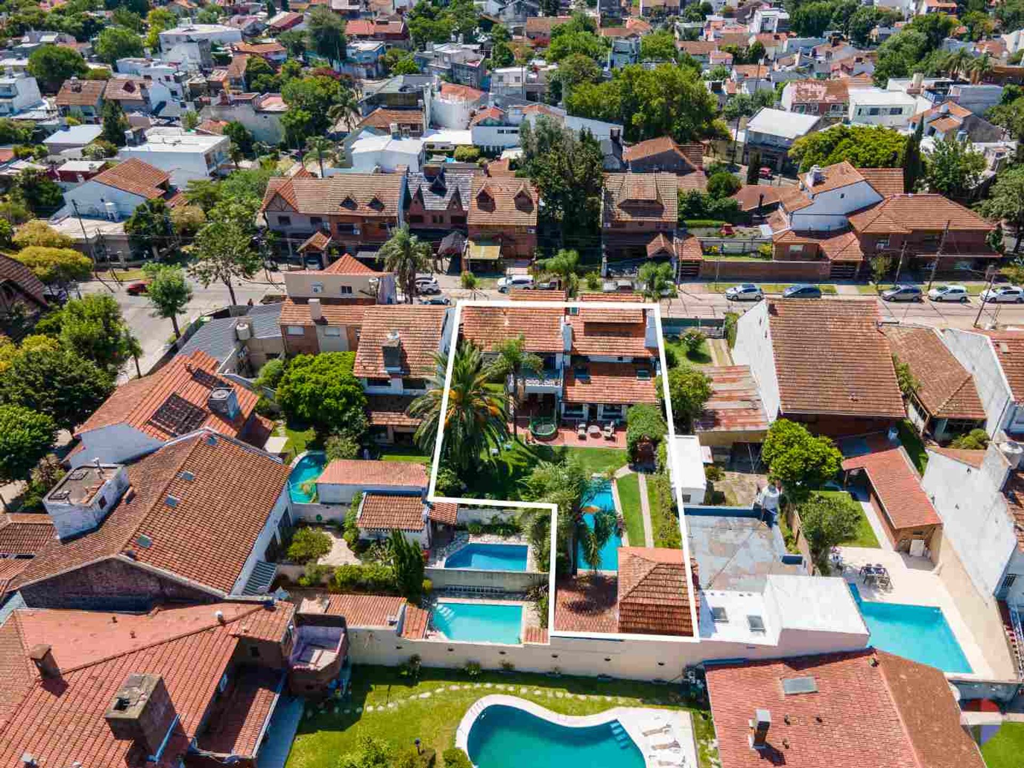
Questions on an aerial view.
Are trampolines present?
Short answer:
Yes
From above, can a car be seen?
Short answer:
Yes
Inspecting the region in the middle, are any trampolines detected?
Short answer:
Yes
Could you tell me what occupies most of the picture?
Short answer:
buildings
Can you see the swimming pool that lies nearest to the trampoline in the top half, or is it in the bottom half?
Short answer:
bottom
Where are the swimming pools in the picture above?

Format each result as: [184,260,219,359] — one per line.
[447,543,532,567]
[848,583,972,673]
[430,603,524,642]
[467,705,646,768]
[289,453,326,502]
[581,479,622,565]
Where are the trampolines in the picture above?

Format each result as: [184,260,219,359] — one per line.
[527,408,557,445]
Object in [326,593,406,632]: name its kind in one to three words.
shed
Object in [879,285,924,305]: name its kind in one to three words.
car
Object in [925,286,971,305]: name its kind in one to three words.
car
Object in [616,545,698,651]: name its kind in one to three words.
building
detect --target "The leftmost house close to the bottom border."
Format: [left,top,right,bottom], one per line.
[0,601,296,768]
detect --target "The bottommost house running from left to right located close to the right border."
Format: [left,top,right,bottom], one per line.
[701,647,988,768]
